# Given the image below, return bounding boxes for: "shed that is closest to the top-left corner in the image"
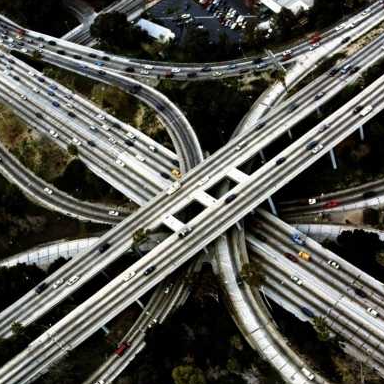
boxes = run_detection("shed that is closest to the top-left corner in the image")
[135,25,176,46]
